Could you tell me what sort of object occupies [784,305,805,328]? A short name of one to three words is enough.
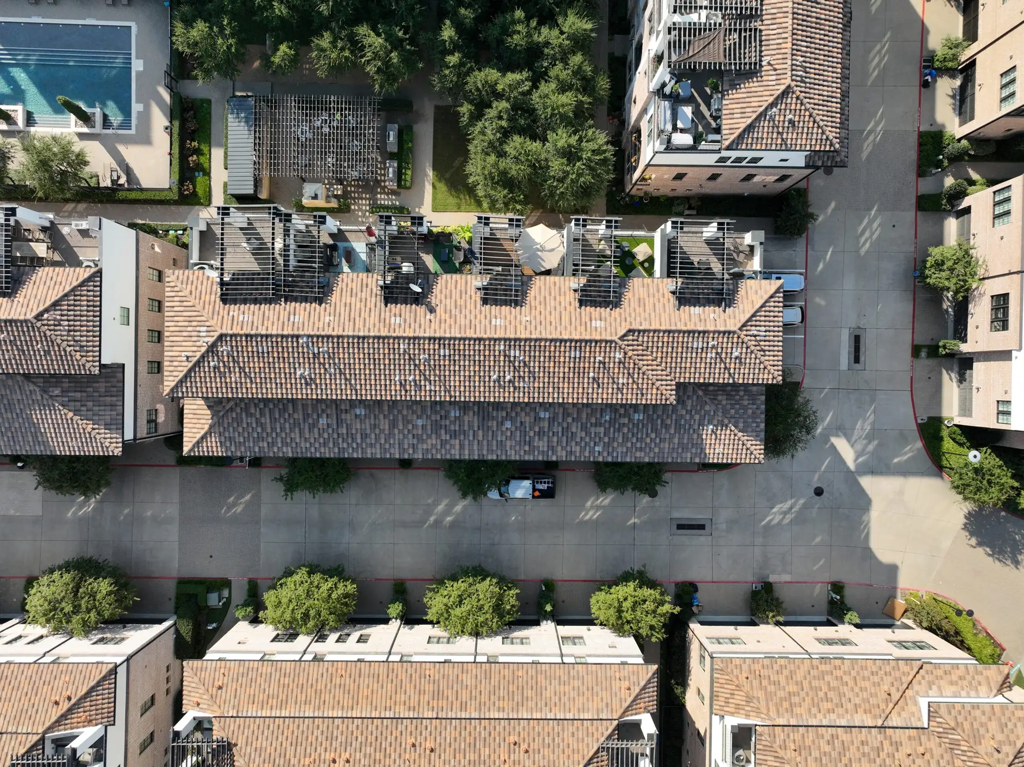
car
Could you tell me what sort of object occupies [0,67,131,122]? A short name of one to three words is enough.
swimming pool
